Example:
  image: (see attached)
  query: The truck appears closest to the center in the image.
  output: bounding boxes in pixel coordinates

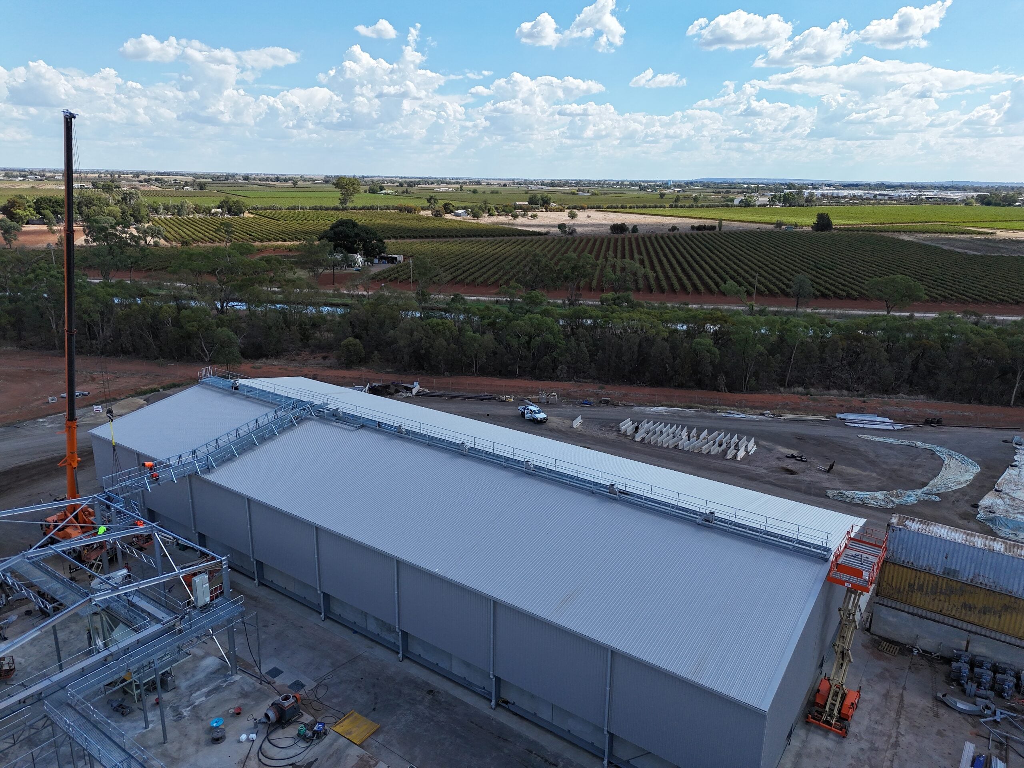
[518,399,551,424]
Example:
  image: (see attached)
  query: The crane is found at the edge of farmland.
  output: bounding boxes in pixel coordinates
[25,104,132,577]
